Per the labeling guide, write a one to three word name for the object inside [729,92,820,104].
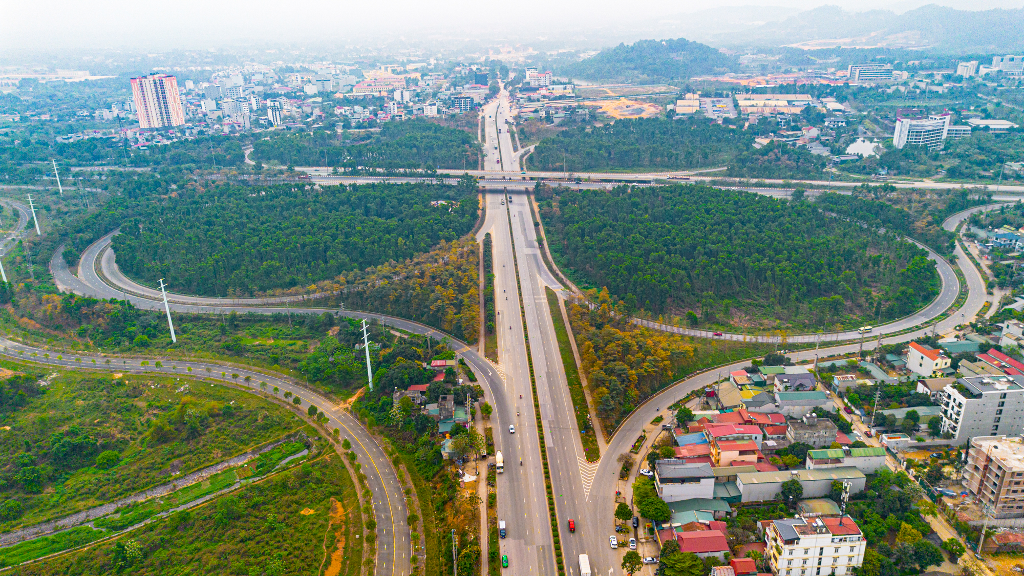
building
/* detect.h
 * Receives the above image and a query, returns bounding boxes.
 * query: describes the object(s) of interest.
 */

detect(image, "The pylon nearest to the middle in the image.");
[360,319,375,392]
